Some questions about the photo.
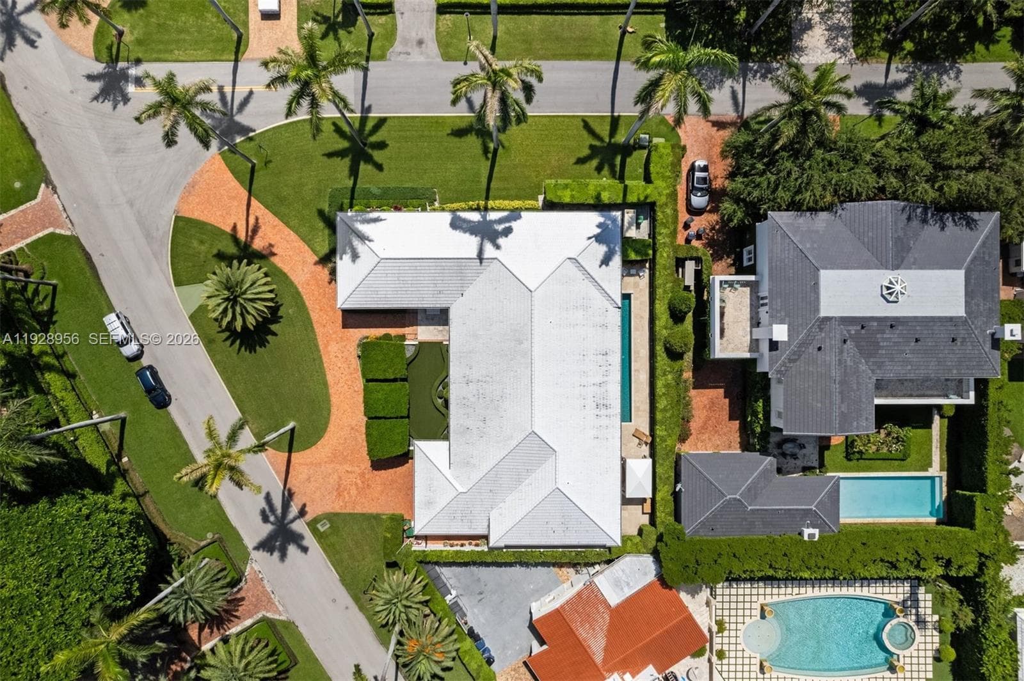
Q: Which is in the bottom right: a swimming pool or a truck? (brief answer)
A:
swimming pool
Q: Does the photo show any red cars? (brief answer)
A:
No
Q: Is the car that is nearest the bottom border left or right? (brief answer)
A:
left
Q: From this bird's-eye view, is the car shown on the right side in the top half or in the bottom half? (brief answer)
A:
top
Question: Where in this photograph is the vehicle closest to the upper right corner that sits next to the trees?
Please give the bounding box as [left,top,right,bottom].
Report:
[689,161,713,210]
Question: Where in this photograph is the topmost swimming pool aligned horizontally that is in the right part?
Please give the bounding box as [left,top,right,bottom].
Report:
[840,475,945,521]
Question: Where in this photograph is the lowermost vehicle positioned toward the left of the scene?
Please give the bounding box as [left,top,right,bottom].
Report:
[132,365,168,409]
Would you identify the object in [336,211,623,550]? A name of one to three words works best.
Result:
house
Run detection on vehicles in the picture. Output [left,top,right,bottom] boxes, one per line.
[132,365,168,409]
[98,309,141,359]
[689,161,713,210]
[254,0,279,15]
